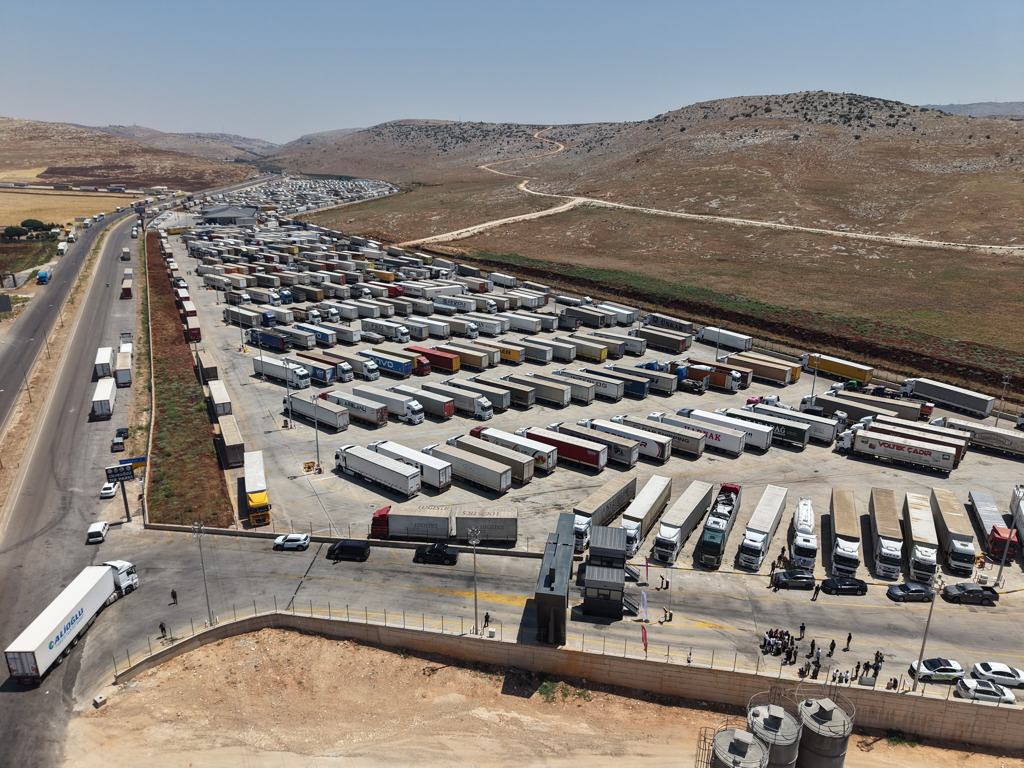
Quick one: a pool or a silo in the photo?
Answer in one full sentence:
The image shows a silo.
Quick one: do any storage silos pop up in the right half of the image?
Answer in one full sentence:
Yes, a storage silo is visible in the right half of the image.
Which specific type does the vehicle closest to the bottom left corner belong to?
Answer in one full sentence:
In the photo, the vehicle closest to the bottom left corner shows up as a truck.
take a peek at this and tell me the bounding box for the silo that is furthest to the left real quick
[696,717,770,768]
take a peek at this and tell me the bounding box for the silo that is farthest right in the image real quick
[794,668,861,768]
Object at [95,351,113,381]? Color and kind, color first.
white vehicle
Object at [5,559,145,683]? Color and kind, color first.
white truck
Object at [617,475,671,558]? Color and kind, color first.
white truck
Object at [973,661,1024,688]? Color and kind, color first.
white car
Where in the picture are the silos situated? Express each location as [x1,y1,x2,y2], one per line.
[744,676,810,768]
[696,717,770,768]
[794,668,861,768]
